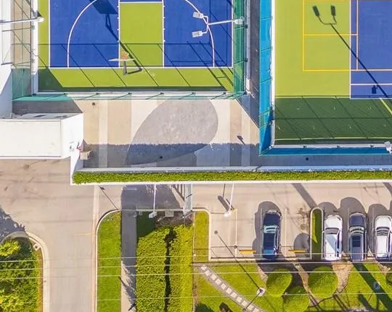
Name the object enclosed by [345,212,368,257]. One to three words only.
car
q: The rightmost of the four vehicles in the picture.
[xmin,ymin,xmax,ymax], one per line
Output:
[373,211,392,257]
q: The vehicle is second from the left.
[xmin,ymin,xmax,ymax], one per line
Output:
[323,212,344,258]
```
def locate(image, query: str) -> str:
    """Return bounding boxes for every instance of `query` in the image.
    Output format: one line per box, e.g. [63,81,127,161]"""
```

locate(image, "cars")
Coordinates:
[323,212,344,258]
[373,211,392,257]
[260,210,283,255]
[345,212,368,257]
